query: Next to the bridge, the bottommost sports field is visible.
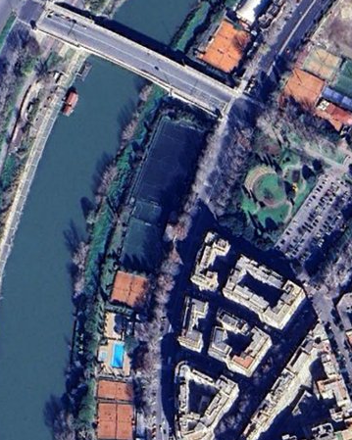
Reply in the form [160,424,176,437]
[133,118,205,214]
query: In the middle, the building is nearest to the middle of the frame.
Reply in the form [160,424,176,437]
[192,232,230,292]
